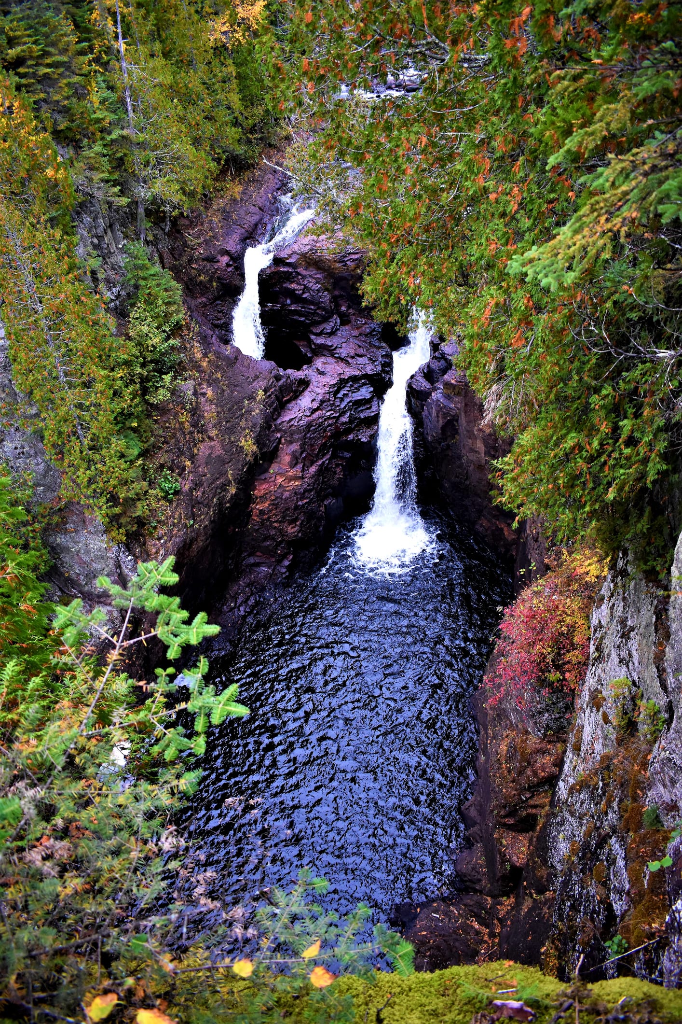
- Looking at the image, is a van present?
No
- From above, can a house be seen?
No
